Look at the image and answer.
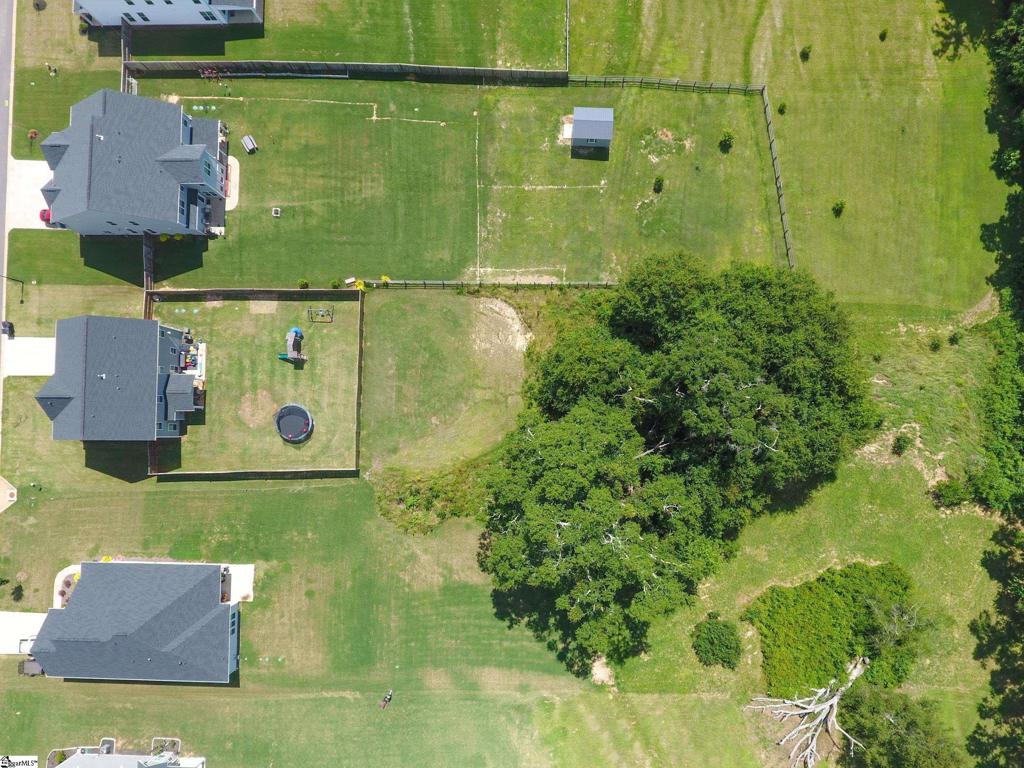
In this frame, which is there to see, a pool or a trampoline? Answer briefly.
trampoline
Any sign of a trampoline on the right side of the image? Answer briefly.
No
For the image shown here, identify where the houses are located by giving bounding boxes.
[40,89,228,236]
[30,559,238,684]
[59,752,204,768]
[69,0,267,25]
[35,315,206,442]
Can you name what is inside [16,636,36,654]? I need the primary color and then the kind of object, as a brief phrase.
white vehicle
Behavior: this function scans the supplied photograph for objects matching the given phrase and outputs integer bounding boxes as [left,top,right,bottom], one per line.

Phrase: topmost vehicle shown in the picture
[40,209,55,225]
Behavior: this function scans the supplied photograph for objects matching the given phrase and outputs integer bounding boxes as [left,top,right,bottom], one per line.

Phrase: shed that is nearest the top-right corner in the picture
[571,109,615,147]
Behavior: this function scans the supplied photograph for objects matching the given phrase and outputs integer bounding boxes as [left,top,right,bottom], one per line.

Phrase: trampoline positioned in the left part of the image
[272,403,315,440]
